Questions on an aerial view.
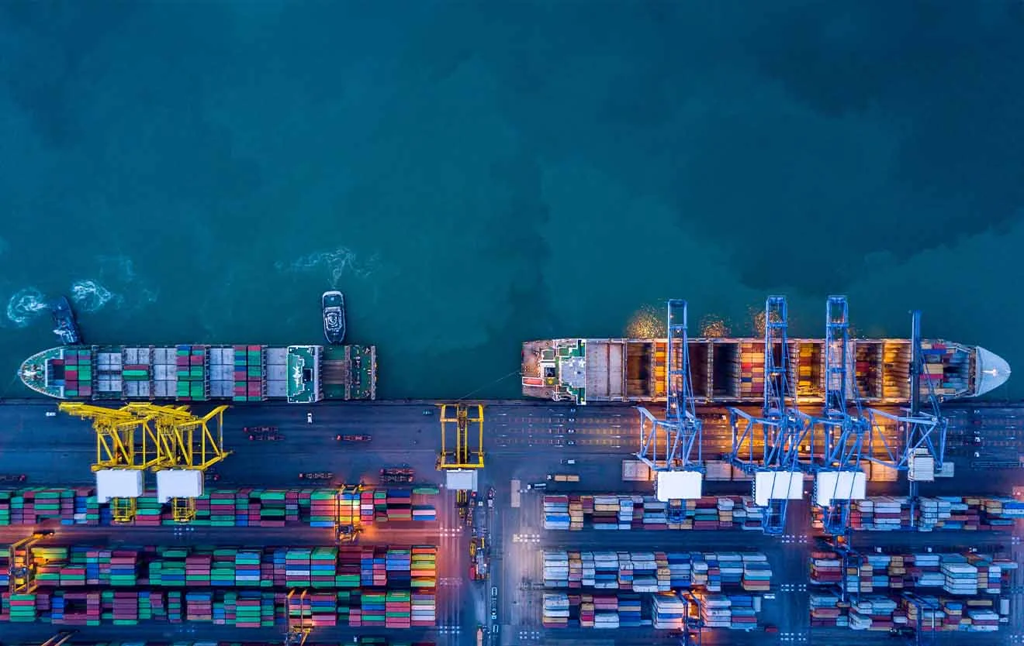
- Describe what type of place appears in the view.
port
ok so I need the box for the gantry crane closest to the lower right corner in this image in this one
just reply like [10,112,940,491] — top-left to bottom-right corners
[894,586,938,646]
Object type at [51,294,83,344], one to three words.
boat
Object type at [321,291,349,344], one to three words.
boat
